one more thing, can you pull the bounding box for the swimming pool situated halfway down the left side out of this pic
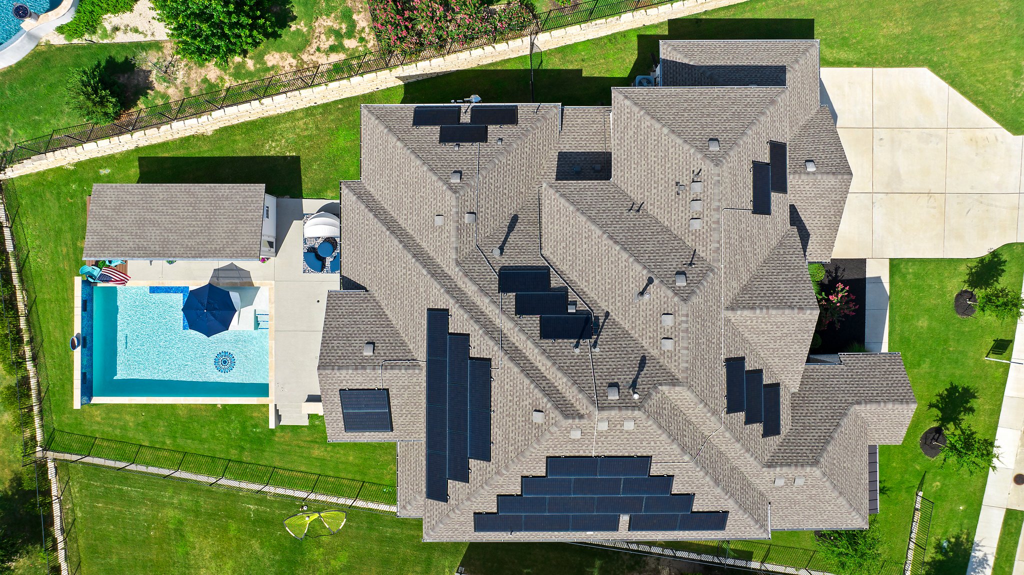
[74,277,275,409]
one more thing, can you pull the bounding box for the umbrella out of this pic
[182,283,237,337]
